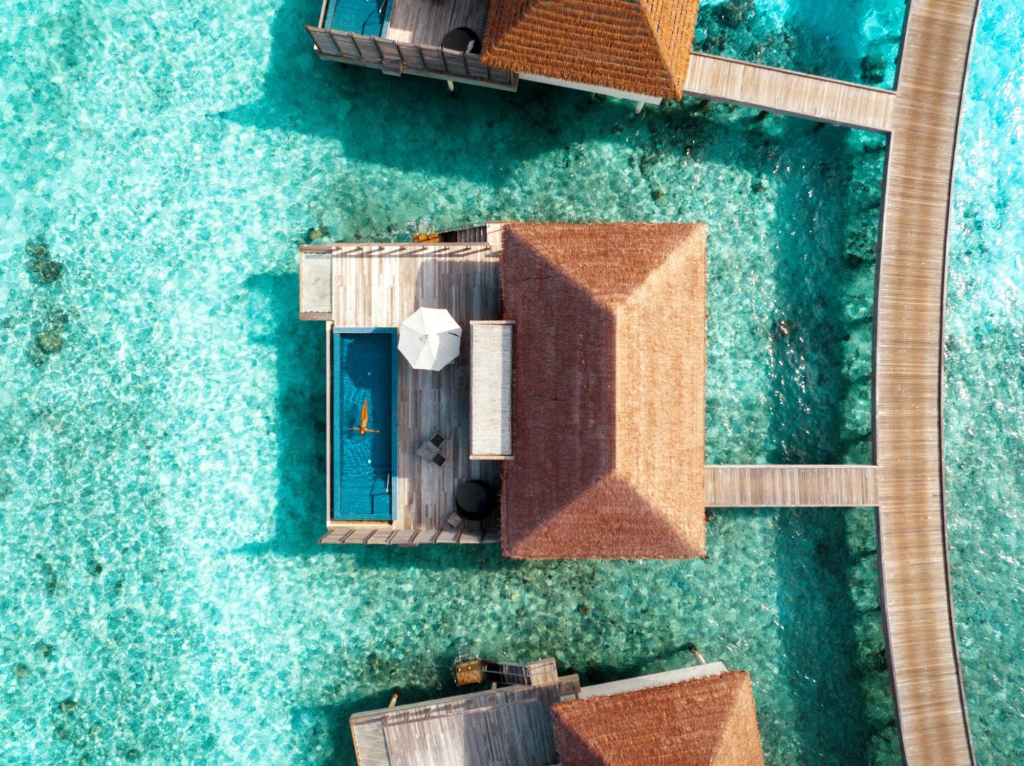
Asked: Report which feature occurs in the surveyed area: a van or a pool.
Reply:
pool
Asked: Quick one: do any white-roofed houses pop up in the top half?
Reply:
No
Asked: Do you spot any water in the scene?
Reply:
Yes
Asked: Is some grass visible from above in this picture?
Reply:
No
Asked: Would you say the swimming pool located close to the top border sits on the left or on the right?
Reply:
left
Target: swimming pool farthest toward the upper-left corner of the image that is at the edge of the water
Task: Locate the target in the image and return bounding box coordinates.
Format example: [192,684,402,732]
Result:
[313,0,395,47]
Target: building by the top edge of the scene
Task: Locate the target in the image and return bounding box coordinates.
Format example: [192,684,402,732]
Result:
[478,0,703,114]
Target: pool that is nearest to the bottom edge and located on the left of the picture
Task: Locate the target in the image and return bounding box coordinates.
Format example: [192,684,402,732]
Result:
[326,321,398,528]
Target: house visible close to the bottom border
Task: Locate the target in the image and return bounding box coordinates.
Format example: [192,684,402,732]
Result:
[546,656,771,766]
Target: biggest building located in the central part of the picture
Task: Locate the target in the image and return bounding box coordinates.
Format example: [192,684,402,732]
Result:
[470,221,709,561]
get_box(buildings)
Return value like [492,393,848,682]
[546,656,771,766]
[470,221,709,561]
[478,0,703,114]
